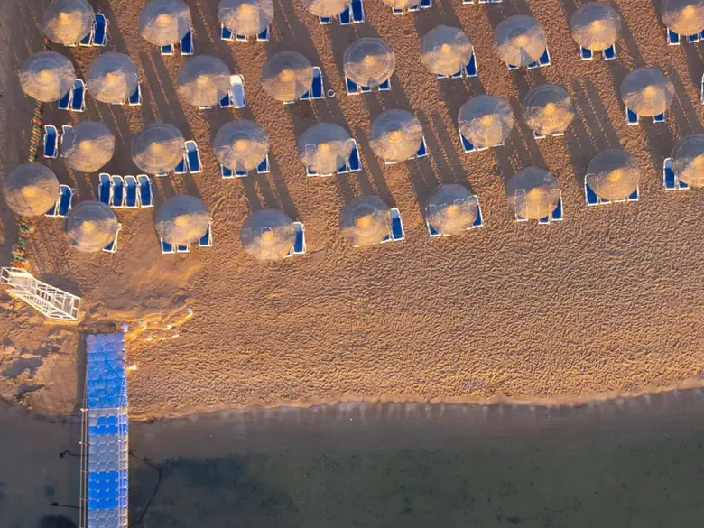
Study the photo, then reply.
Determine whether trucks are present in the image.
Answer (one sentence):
No, the picture doesn't show any truck.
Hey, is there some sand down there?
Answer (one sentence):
Yes, the picture does contain sand.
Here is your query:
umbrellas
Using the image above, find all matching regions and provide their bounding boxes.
[239,208,296,261]
[61,122,116,173]
[42,0,97,43]
[65,200,121,254]
[669,134,704,185]
[176,55,232,106]
[131,123,186,175]
[301,0,351,17]
[425,185,479,236]
[621,68,676,118]
[570,3,623,50]
[521,86,574,134]
[419,26,473,76]
[587,150,641,201]
[457,95,514,148]
[492,16,548,67]
[155,193,210,245]
[660,0,704,35]
[212,120,269,173]
[86,53,140,102]
[2,162,60,217]
[217,0,273,36]
[297,123,354,177]
[18,52,76,103]
[259,53,314,102]
[505,167,561,219]
[342,37,397,87]
[369,111,424,161]
[139,0,193,46]
[338,196,394,248]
